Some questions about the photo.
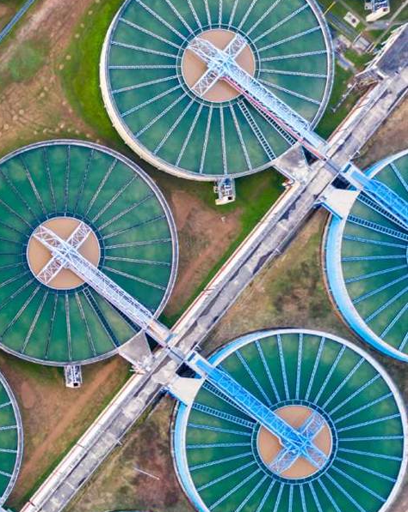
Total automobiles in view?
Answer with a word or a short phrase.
zero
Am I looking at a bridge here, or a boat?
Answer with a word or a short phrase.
bridge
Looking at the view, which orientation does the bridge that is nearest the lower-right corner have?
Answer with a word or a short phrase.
diagonally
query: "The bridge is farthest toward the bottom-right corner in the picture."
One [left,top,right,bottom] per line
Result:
[179,350,315,460]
